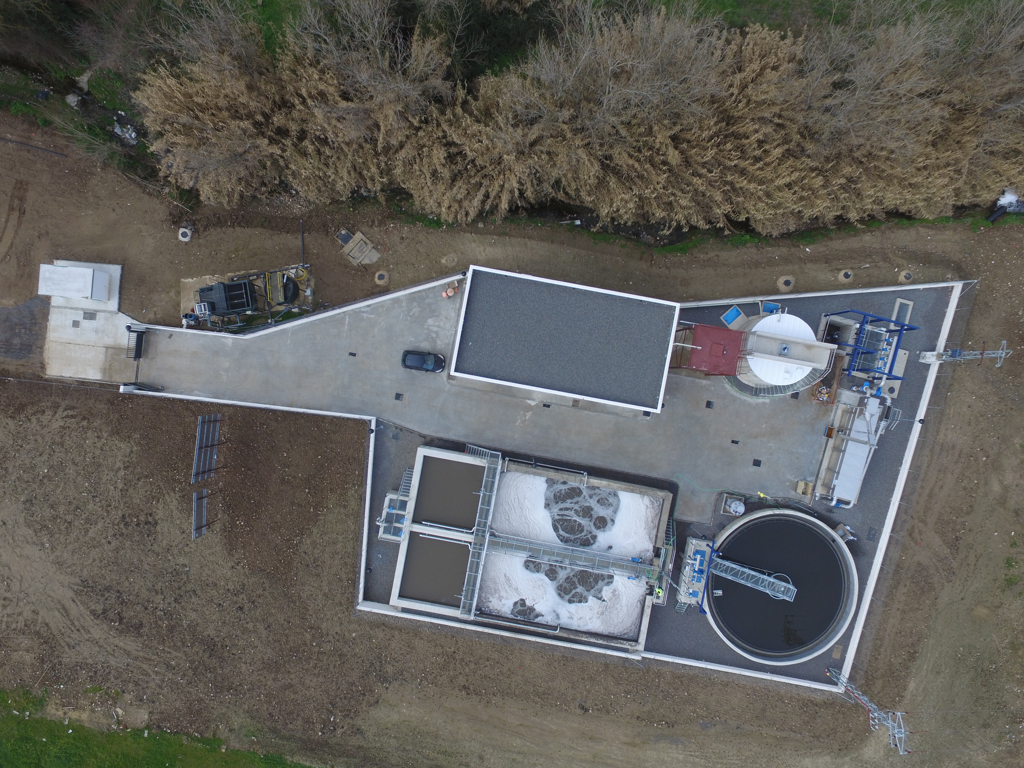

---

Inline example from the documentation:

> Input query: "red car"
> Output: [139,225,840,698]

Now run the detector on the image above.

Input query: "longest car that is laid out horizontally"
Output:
[400,350,444,372]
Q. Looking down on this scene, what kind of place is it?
industrial area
